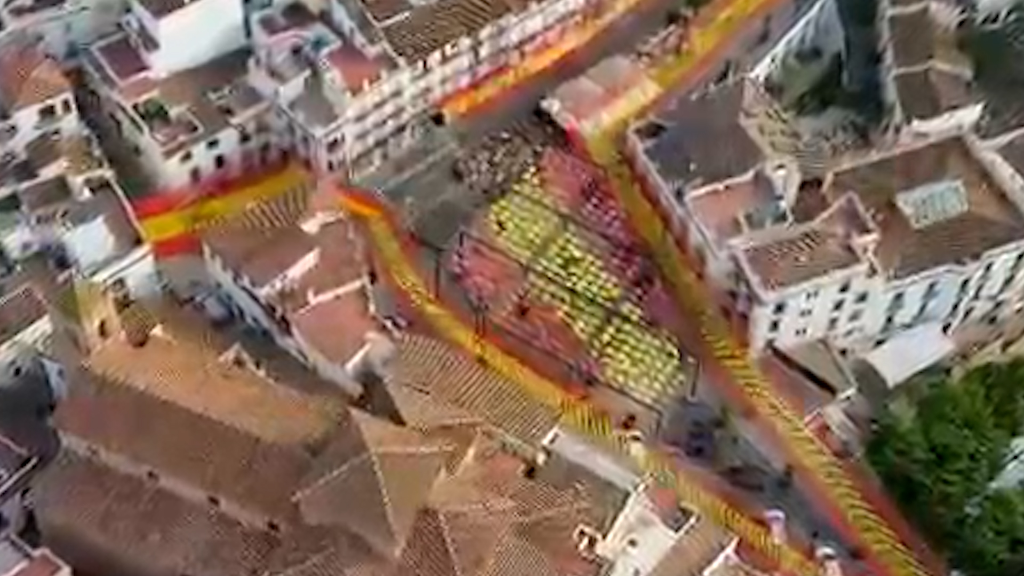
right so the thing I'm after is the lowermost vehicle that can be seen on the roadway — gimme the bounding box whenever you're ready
[723,456,775,498]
